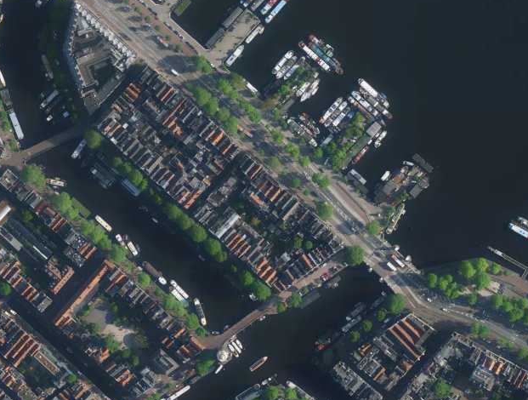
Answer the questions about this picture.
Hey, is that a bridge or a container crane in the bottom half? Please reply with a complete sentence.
What appears in the bottom half is a bridge.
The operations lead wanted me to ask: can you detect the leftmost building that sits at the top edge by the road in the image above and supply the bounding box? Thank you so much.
[68,1,138,114]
